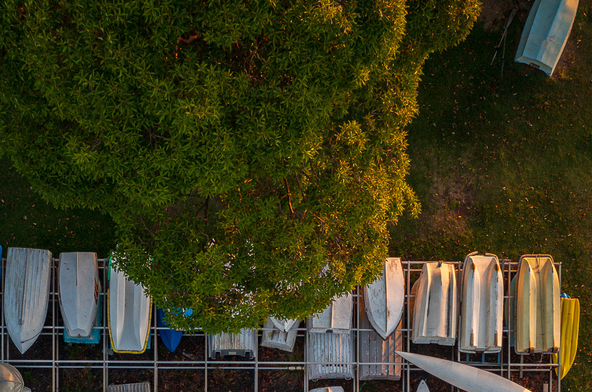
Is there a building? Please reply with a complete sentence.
No, I can see no building in this picture.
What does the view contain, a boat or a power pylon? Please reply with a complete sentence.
There is a boat in the scene.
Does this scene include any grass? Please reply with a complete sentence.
Yes, there's grass in this view.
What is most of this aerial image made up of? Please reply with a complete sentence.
The bulk of the photo consists of trees.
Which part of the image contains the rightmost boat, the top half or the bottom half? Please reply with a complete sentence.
The bottom half of the photo is where the rightmost boat is.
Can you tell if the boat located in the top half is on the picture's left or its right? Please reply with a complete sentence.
The boat located in the top half sits on the right side.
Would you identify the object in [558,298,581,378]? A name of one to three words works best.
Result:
boat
